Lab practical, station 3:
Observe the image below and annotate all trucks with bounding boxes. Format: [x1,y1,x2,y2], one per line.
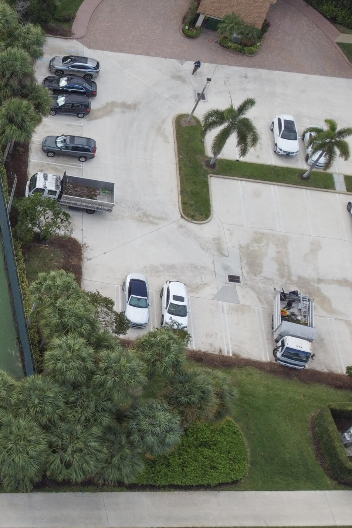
[30,172,117,215]
[272,292,321,374]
